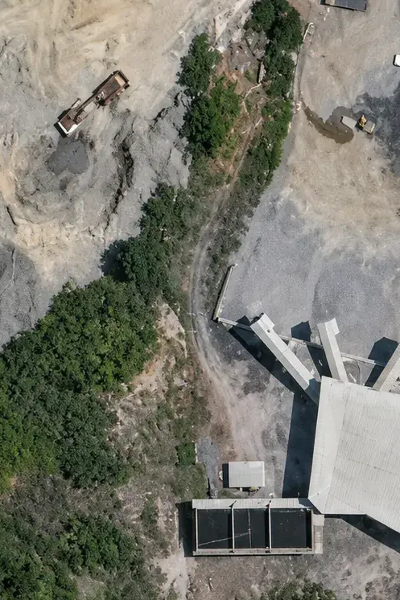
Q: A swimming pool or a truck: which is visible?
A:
truck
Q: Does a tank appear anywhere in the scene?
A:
Yes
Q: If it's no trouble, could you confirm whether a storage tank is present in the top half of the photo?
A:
No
